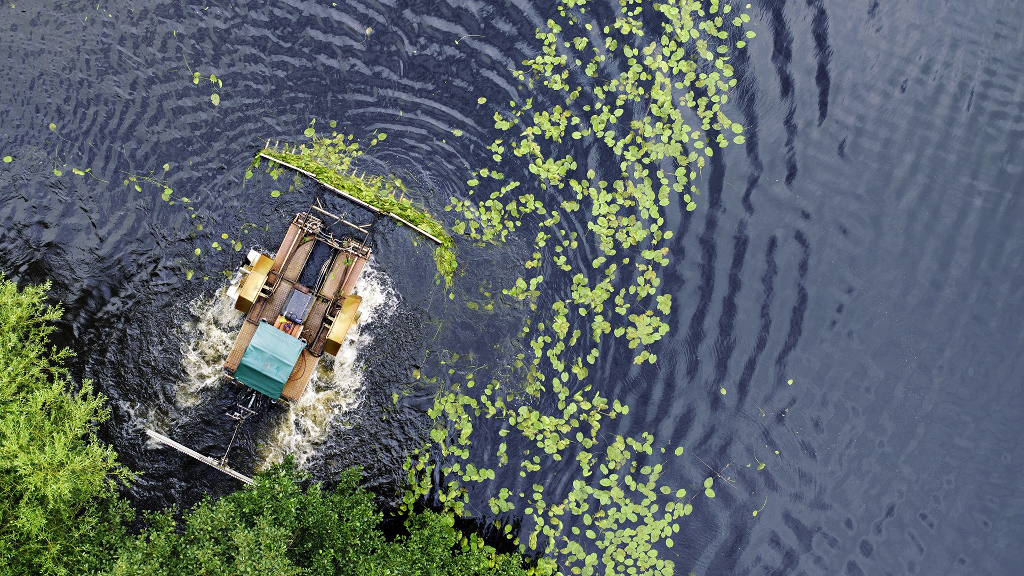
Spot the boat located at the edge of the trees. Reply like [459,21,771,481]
[146,138,448,486]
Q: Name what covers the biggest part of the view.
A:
water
